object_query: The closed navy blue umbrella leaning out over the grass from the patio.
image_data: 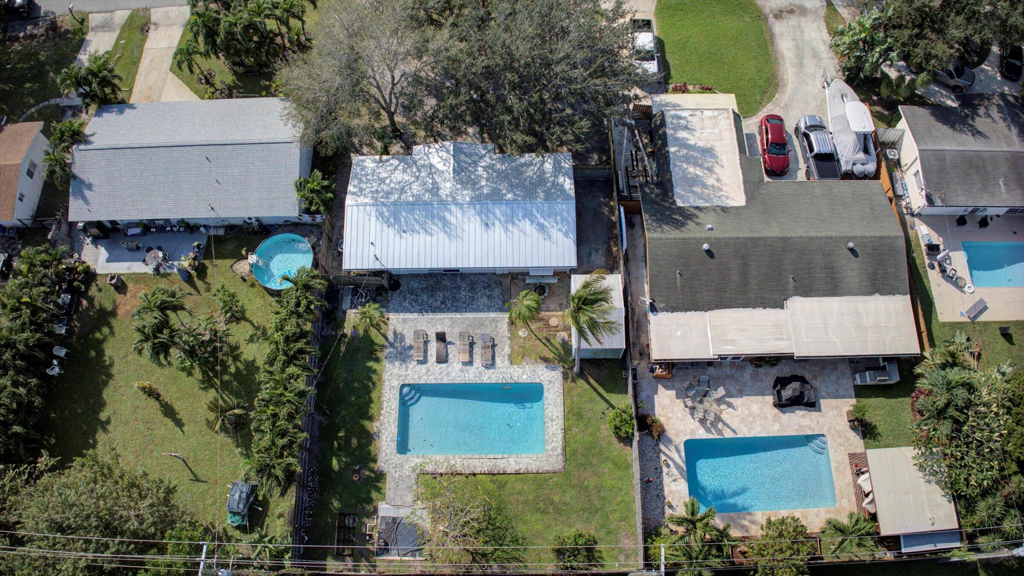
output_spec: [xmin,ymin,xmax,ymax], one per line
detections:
[158,260,189,280]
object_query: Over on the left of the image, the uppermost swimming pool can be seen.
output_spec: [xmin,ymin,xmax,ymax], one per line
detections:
[250,233,318,297]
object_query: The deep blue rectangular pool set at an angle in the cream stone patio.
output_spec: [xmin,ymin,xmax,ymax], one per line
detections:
[685,434,836,513]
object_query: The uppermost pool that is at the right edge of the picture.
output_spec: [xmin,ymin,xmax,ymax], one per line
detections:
[963,242,1024,286]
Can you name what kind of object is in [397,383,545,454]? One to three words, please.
swimming pool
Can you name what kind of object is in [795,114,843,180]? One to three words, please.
truck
